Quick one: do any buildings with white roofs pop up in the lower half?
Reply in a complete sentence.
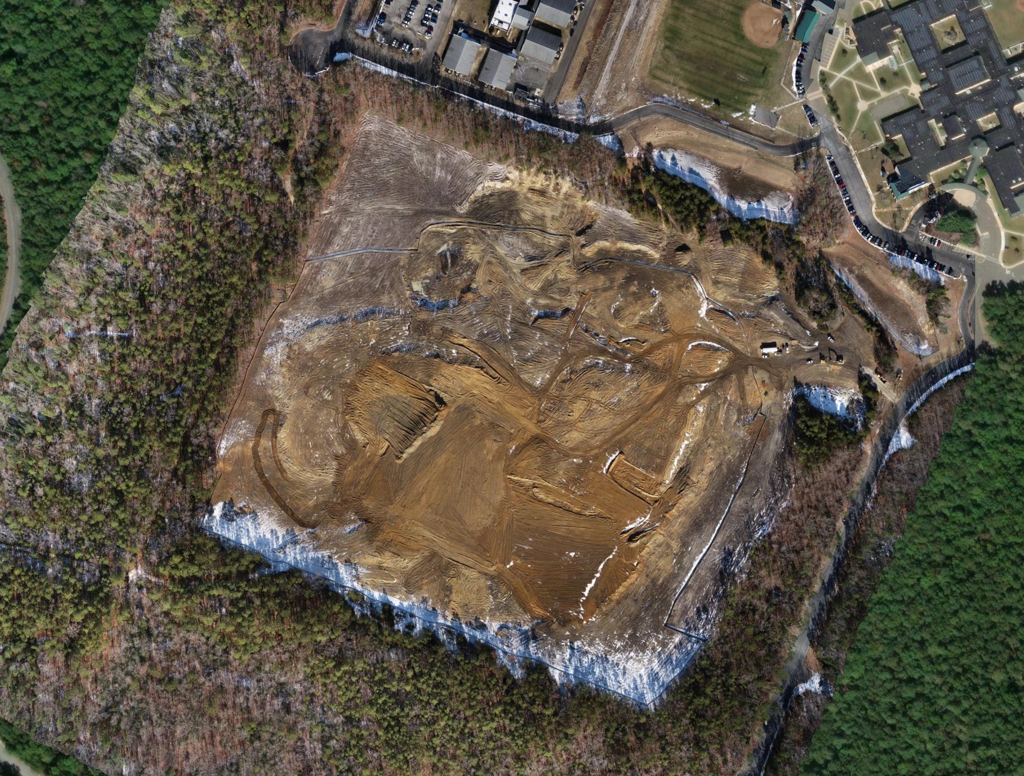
No, looking in the lower half, there is no building with a white roof.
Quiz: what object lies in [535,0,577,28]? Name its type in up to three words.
building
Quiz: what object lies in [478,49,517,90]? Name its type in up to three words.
building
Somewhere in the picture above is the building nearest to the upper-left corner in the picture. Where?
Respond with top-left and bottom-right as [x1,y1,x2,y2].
[442,34,481,76]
